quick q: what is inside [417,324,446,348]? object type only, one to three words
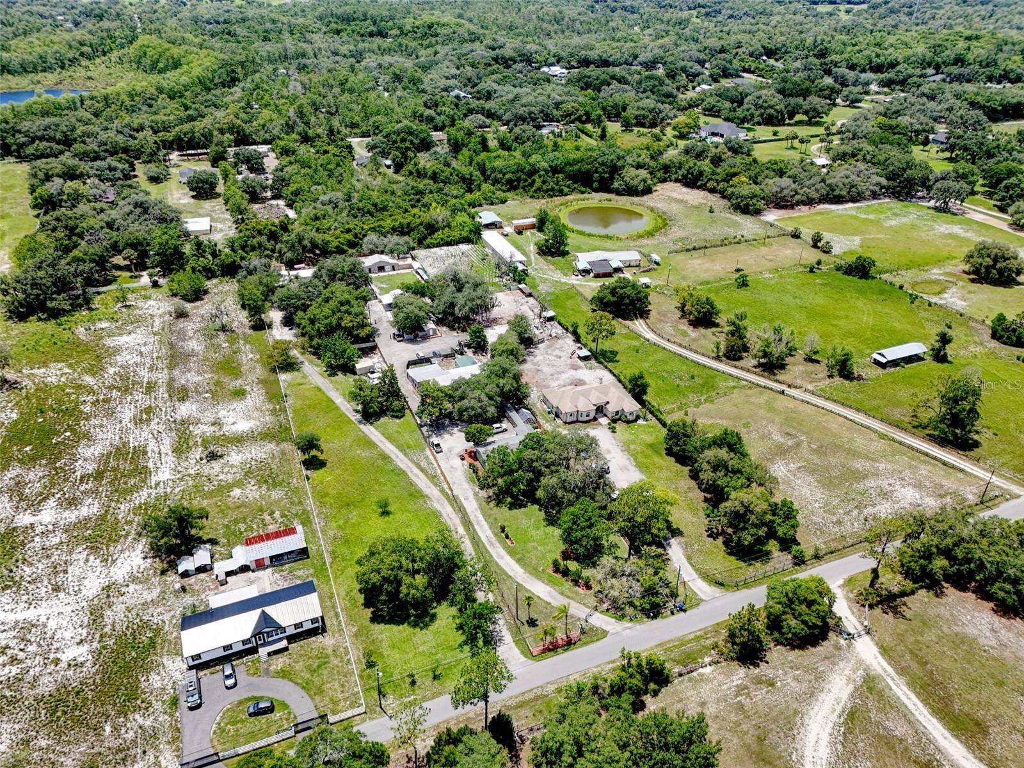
house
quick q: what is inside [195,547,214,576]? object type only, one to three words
shed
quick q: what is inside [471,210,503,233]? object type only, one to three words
barn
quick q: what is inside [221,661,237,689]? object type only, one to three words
car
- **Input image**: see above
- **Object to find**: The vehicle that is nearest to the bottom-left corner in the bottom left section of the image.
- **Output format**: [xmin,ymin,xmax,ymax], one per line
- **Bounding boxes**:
[181,663,200,707]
